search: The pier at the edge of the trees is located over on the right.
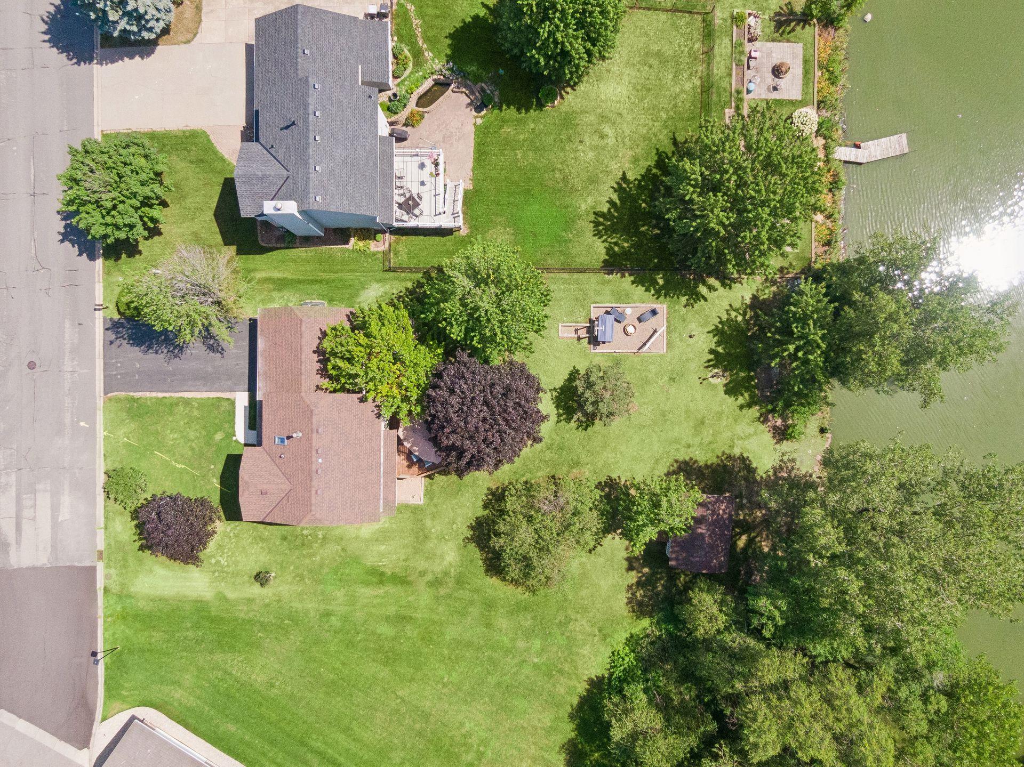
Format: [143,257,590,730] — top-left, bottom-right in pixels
[834,128,918,163]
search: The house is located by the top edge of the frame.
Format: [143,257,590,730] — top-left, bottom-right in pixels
[222,2,405,236]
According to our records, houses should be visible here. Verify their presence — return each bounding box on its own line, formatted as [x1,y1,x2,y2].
[222,2,405,236]
[238,306,403,526]
[101,719,225,767]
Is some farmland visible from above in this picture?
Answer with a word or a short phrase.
No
